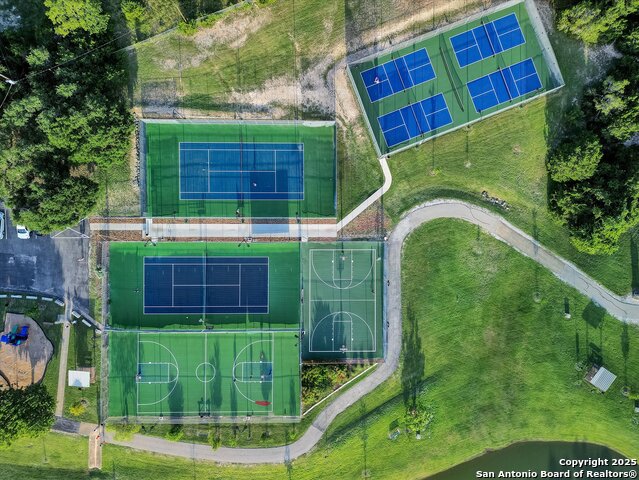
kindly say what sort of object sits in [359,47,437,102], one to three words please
sports court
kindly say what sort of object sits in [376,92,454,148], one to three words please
sports court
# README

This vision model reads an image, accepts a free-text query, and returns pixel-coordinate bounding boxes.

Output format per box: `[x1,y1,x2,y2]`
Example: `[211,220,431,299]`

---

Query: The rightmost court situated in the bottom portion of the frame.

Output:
[302,243,384,361]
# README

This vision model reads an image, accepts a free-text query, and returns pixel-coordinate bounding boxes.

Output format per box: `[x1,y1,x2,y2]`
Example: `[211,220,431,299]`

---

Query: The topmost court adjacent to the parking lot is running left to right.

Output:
[147,124,336,216]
